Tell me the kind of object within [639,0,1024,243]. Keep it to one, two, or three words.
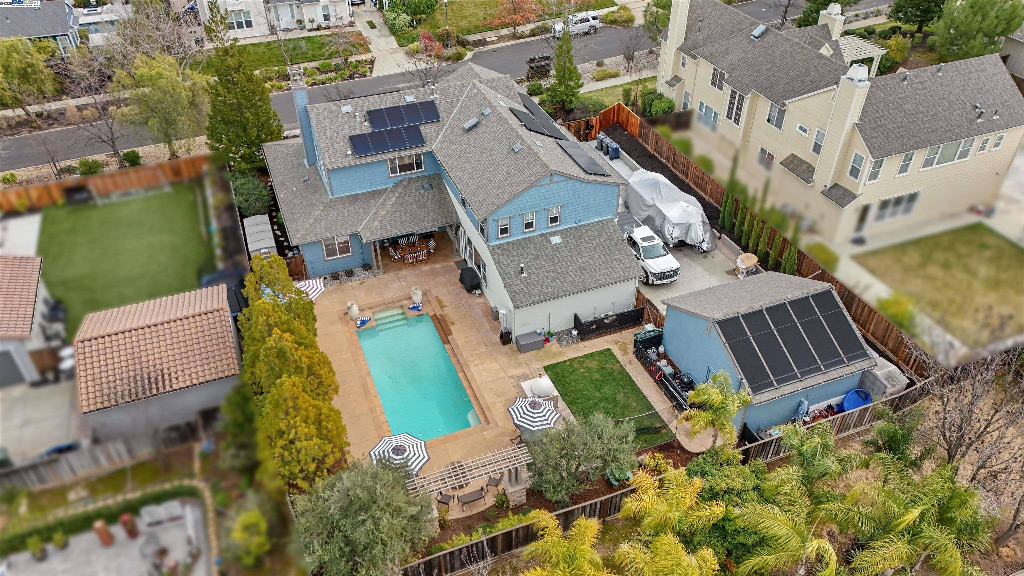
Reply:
house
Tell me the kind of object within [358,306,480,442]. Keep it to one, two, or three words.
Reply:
swimming pool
